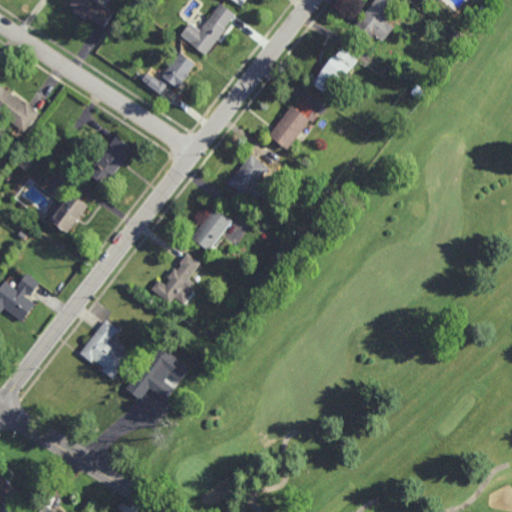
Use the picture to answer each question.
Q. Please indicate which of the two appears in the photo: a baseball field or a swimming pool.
swimming pool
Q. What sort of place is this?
golf course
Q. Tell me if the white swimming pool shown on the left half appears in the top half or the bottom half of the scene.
top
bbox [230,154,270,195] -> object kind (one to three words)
house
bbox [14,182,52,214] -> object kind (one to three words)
swimming pool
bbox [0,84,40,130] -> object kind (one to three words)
house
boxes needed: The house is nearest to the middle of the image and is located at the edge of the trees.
[192,209,234,250]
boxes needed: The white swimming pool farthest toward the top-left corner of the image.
[180,0,205,28]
